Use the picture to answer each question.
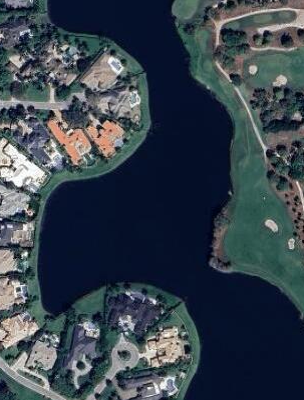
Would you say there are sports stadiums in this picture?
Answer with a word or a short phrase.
No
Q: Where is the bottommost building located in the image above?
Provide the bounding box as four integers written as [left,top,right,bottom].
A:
[116,372,166,400]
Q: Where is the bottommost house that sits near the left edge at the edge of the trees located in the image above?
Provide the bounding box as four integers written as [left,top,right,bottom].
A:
[14,331,65,373]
